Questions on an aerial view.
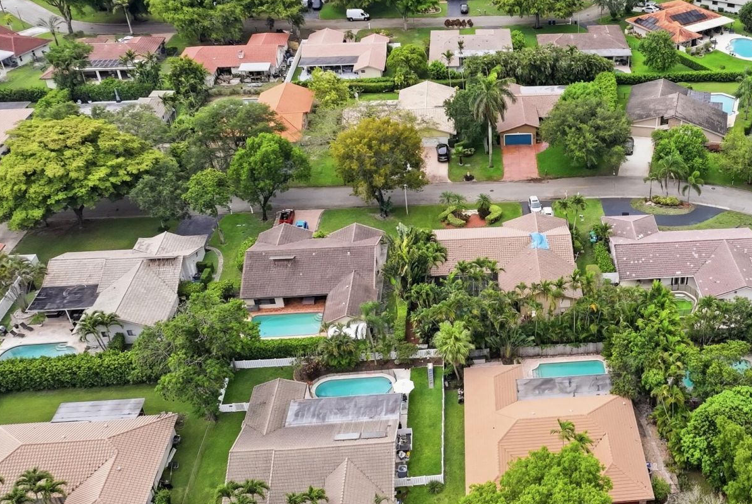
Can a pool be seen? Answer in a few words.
Yes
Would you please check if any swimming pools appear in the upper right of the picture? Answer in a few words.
Yes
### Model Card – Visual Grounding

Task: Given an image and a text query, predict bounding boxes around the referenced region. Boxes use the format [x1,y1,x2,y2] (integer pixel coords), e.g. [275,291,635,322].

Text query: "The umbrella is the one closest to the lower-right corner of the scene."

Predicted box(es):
[391,371,414,394]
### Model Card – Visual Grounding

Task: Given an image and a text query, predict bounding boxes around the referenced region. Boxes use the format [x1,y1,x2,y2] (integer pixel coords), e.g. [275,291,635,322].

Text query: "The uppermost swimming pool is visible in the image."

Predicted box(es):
[727,35,752,58]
